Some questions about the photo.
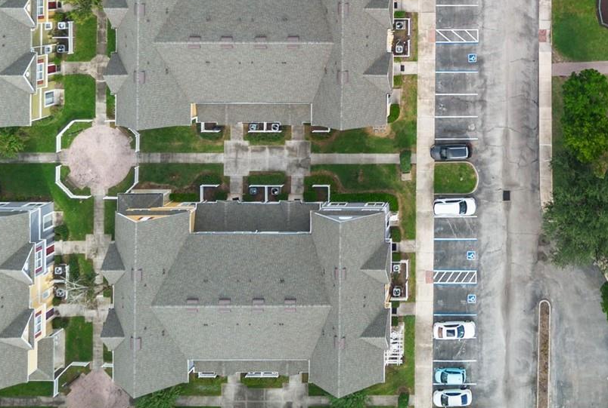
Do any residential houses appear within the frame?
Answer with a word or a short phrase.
Yes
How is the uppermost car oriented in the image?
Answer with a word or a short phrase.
horizontally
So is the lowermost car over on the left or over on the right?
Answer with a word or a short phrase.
right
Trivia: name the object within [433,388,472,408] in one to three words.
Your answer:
car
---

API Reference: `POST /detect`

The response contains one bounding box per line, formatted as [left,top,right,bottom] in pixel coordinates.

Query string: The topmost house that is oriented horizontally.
[107,0,394,132]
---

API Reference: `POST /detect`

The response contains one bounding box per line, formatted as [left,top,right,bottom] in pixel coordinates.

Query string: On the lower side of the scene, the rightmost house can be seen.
[104,189,392,397]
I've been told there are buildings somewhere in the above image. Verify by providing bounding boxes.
[0,200,66,390]
[0,0,55,130]
[107,0,394,132]
[104,189,392,397]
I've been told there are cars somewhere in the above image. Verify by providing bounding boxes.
[433,320,475,341]
[430,143,471,163]
[436,366,468,387]
[433,388,472,408]
[434,197,476,218]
